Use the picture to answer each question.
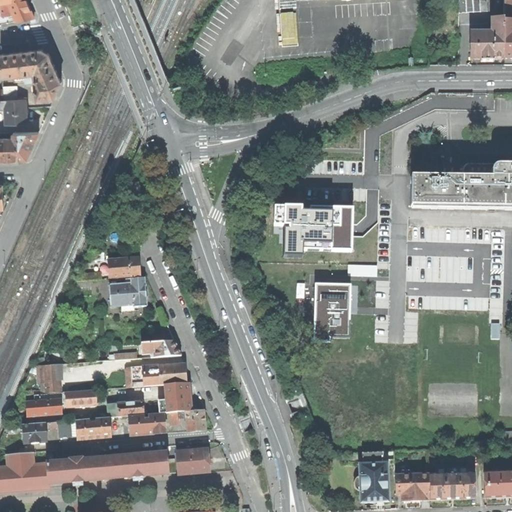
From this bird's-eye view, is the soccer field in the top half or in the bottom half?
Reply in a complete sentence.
You can find the soccer field in the bottom half.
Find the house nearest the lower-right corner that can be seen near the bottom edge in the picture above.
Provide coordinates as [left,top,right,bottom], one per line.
[484,470,512,498]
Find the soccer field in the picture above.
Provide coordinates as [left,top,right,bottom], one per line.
[418,313,512,440]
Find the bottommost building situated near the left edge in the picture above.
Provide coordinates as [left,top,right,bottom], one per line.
[0,450,170,494]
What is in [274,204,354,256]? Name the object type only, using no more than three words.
building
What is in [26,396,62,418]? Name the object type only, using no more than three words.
house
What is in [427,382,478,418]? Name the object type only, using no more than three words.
sports court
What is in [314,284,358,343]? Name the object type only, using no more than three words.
building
